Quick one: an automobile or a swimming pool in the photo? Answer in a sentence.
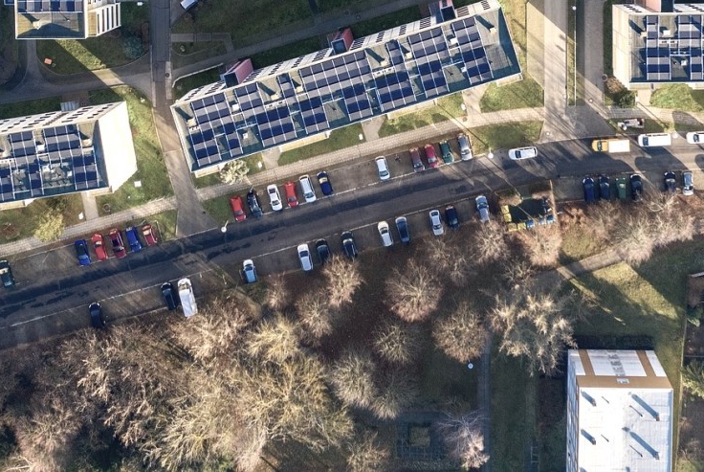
It is an automobile that can be seen here.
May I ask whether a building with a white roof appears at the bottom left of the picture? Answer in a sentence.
No, no building with a white roof can be made out at the bottom left of the picture.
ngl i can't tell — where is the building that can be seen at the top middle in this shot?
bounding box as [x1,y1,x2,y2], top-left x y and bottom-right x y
[171,0,521,182]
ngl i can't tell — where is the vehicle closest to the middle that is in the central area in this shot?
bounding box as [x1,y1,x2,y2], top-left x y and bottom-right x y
[341,230,358,261]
